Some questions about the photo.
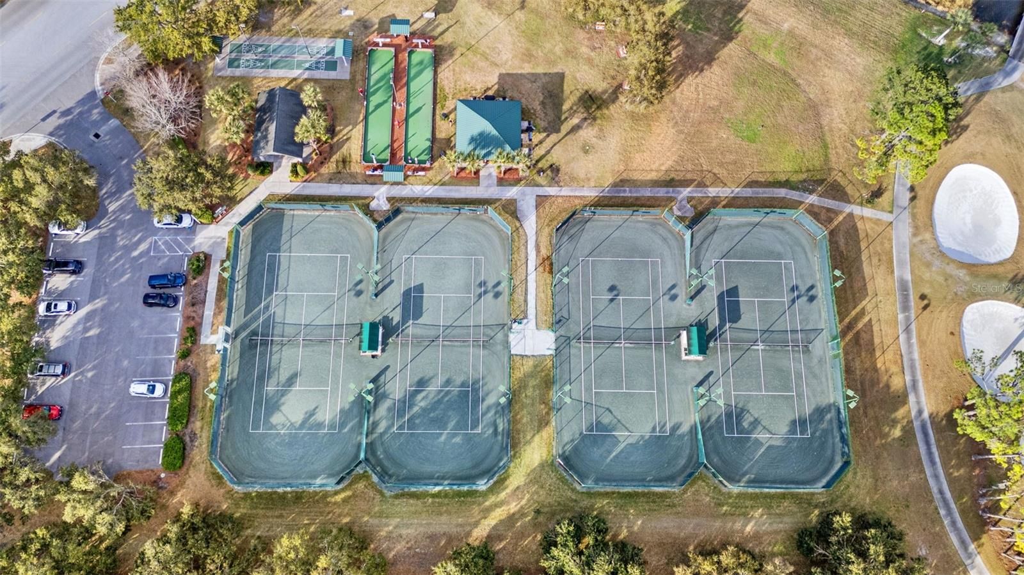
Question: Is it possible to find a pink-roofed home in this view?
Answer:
No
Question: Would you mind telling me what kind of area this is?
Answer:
sports ground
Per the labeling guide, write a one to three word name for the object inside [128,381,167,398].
car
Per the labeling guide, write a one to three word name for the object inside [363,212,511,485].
tennis court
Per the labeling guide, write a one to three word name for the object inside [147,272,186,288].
car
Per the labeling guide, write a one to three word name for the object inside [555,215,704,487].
tennis court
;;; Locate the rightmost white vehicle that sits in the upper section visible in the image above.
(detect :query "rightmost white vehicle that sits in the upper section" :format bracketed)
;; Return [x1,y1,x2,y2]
[154,214,193,229]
